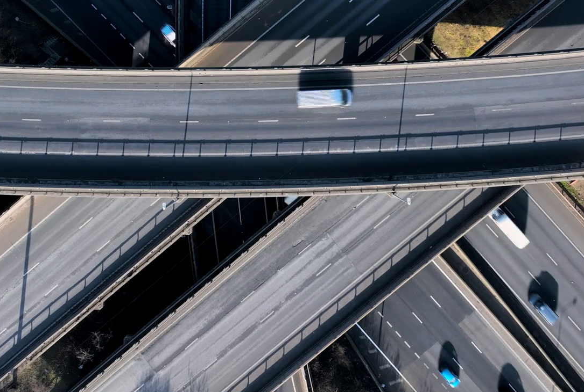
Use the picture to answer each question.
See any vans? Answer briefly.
Yes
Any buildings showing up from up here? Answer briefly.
No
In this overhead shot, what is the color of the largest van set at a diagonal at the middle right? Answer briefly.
white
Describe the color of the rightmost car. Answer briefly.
blue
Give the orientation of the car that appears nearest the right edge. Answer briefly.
diagonally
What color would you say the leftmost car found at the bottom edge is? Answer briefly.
blue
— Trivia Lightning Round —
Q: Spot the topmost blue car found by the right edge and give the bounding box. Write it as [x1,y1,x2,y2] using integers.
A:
[528,293,558,325]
